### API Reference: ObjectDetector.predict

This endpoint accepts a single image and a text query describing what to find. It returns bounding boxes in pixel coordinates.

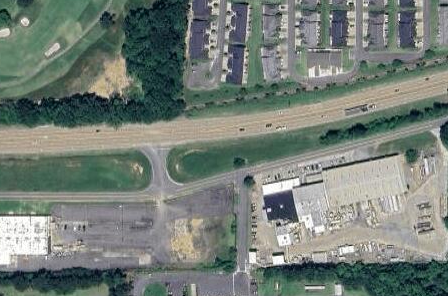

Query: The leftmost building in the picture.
[0,215,50,264]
